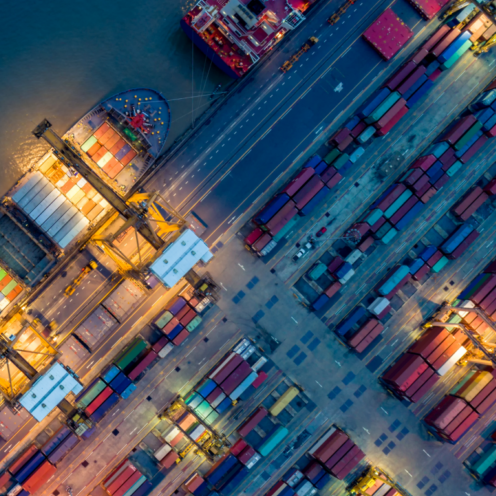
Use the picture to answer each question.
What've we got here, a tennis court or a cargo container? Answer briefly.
cargo container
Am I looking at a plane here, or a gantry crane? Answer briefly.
gantry crane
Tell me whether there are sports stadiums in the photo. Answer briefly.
No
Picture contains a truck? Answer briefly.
Yes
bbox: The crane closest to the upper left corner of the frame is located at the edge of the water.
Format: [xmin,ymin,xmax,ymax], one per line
[31,117,222,303]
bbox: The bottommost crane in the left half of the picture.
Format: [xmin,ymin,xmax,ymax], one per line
[157,395,233,468]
